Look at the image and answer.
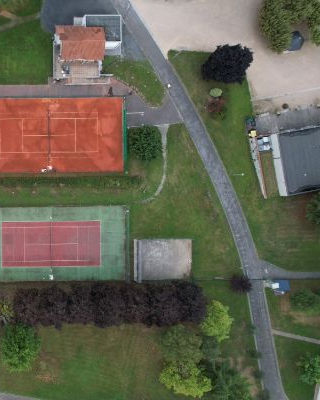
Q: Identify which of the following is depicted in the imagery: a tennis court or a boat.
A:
tennis court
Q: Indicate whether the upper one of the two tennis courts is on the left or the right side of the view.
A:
left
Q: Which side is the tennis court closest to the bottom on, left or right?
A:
left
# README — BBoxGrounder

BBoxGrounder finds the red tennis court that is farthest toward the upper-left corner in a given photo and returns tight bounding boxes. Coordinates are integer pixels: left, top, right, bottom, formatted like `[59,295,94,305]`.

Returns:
[0,97,124,174]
